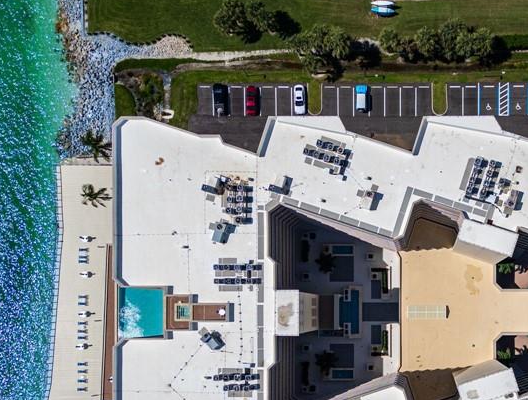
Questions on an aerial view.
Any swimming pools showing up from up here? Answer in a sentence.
Yes, there is a swimming pool in the image.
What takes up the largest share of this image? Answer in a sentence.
Most of the picture is covered by buildings.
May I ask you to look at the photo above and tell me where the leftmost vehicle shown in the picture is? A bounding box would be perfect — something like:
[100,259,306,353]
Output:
[213,83,228,118]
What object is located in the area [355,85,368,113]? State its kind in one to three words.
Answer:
vehicle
